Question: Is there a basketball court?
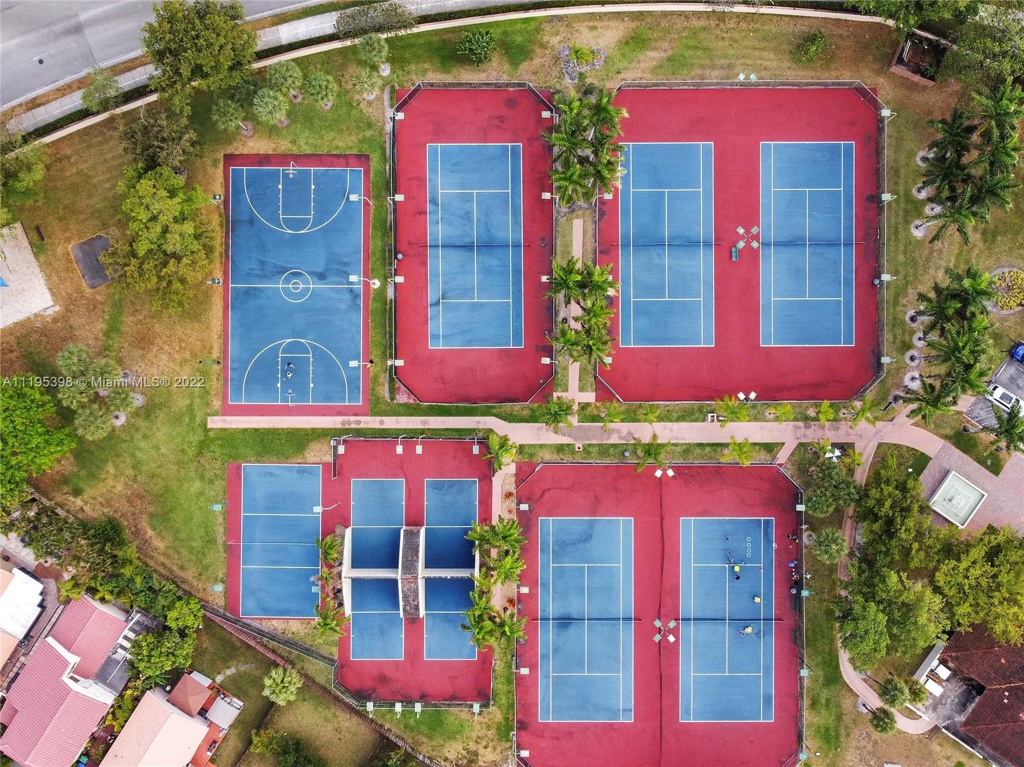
Yes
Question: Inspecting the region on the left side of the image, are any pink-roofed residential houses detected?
Yes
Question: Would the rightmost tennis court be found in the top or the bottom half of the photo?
top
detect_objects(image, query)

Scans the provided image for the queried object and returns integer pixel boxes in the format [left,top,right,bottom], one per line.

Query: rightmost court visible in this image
[737,88,877,401]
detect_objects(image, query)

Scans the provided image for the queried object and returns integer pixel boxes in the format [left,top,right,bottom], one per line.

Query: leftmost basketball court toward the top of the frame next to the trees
[220,154,370,416]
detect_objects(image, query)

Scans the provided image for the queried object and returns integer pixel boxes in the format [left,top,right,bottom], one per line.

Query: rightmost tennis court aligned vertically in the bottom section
[661,461,799,767]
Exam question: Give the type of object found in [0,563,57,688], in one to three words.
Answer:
house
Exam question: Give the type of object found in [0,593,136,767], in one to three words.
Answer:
house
